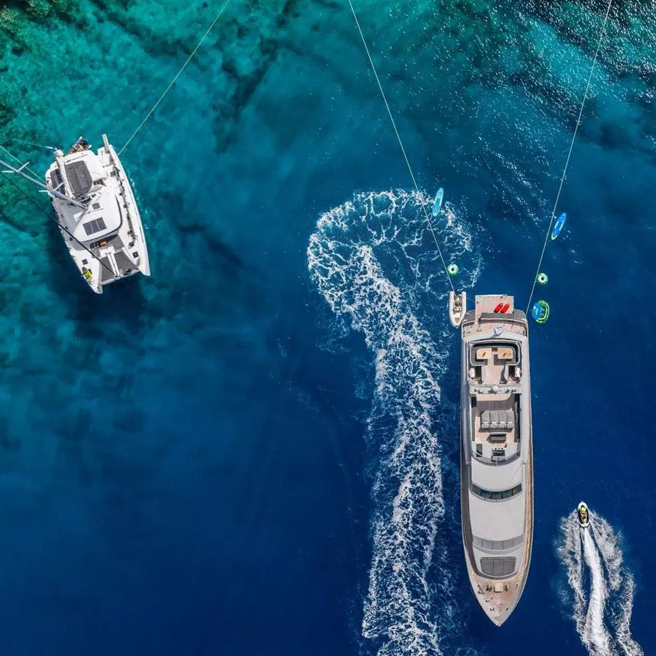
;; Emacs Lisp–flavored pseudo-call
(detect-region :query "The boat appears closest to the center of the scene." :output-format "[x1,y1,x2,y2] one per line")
[449,292,470,327]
